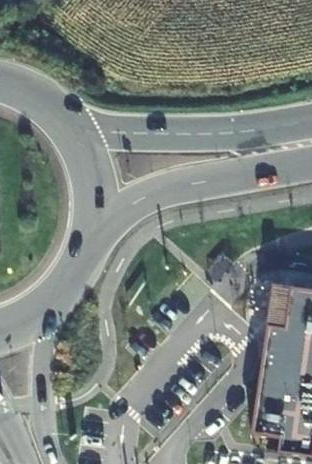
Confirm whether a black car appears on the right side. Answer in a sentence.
Yes, looking on the right side, one can make out a black car.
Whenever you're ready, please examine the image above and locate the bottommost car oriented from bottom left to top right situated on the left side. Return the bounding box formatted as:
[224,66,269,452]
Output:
[107,401,128,419]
